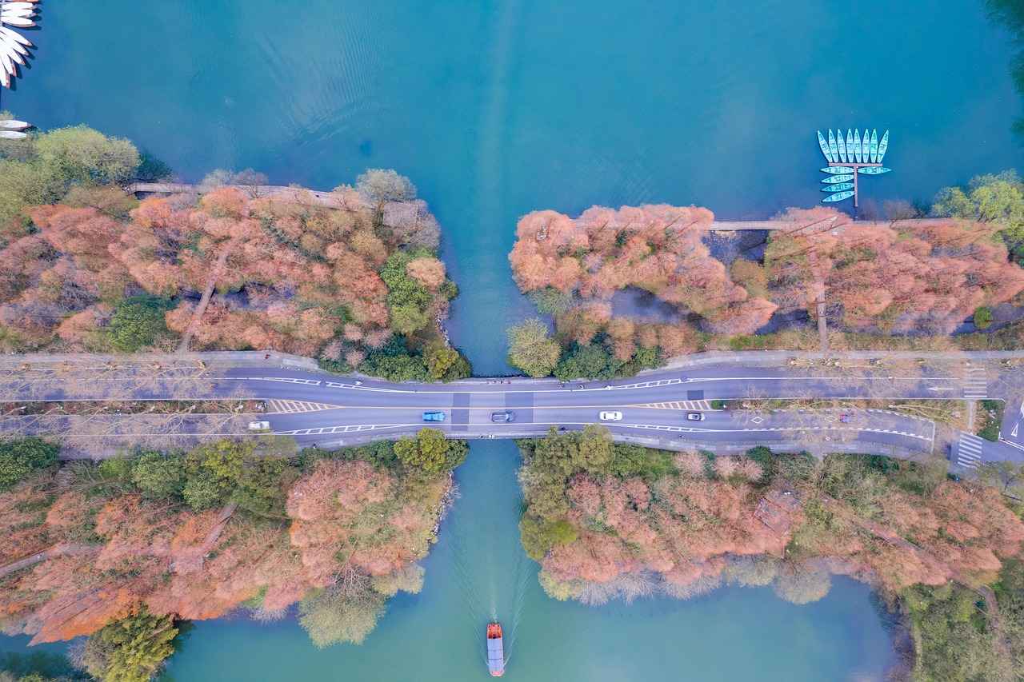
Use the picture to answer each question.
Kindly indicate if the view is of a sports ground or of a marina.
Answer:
marina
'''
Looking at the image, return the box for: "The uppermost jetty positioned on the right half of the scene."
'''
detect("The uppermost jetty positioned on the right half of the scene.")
[828,162,883,219]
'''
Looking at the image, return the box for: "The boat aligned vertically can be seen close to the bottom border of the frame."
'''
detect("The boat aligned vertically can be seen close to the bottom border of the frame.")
[487,621,504,681]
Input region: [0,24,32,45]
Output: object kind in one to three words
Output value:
boat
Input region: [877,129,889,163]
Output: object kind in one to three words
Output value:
boat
